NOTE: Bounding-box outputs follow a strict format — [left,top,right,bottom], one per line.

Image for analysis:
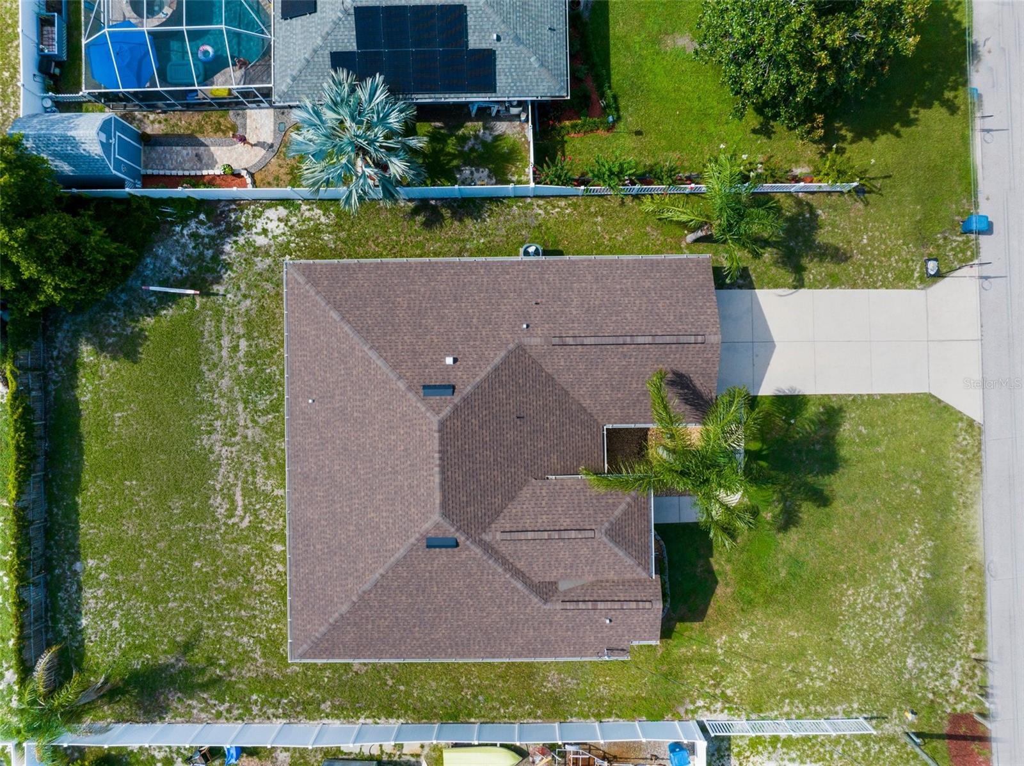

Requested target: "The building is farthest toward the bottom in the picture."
[282,253,722,664]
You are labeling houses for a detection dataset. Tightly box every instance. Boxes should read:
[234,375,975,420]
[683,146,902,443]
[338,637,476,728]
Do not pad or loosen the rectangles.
[282,253,722,664]
[269,0,571,108]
